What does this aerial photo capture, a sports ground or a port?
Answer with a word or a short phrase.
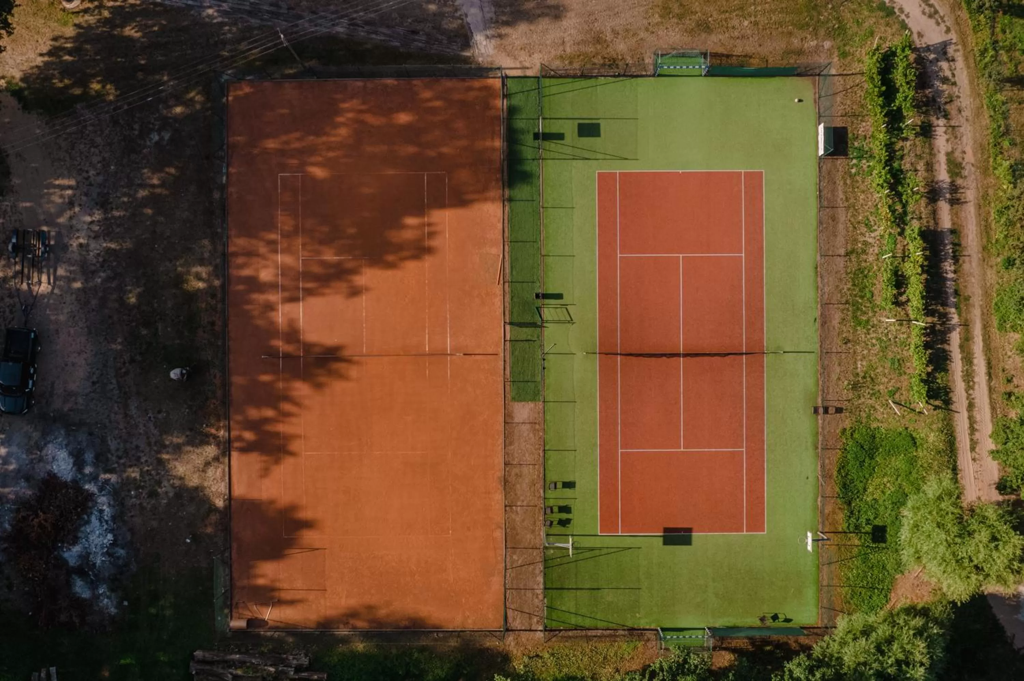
sports ground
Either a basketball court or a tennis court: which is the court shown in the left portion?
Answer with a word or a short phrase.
tennis court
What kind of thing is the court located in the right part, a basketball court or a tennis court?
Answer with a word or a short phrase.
tennis court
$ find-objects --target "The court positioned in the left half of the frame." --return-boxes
[225,76,504,632]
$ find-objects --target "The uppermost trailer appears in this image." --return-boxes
[7,228,48,330]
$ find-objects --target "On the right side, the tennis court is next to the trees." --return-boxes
[540,76,822,629]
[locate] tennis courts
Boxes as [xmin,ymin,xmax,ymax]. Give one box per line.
[540,76,822,629]
[225,76,504,632]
